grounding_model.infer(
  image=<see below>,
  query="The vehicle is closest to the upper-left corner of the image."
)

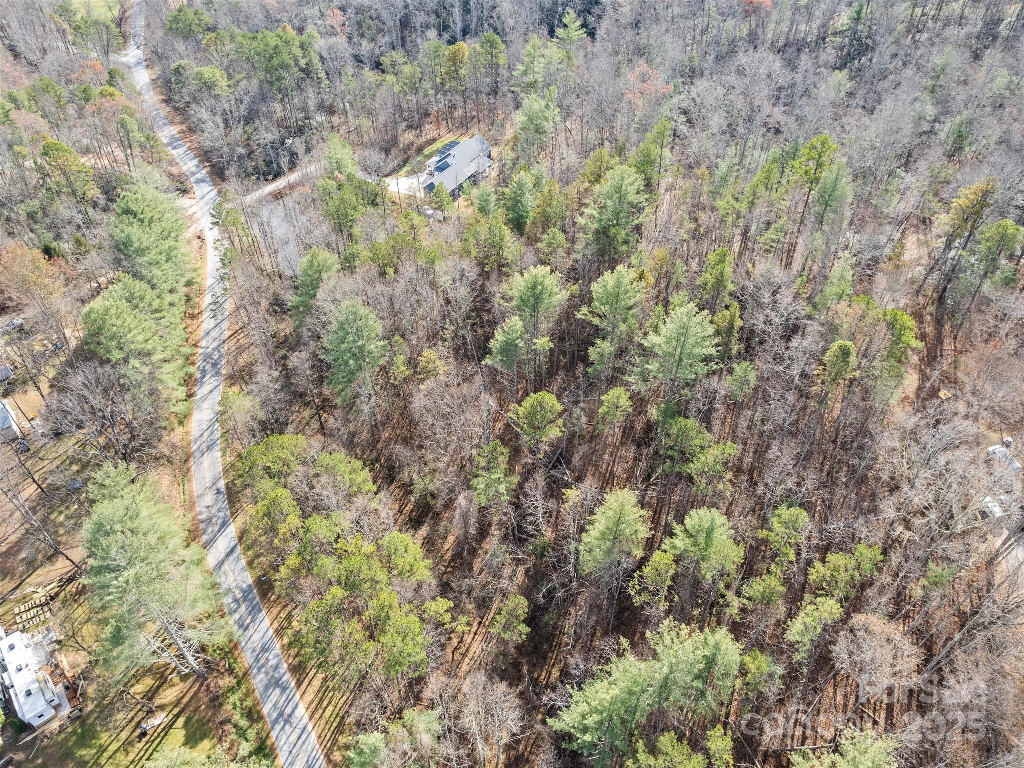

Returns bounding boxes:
[0,314,26,335]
